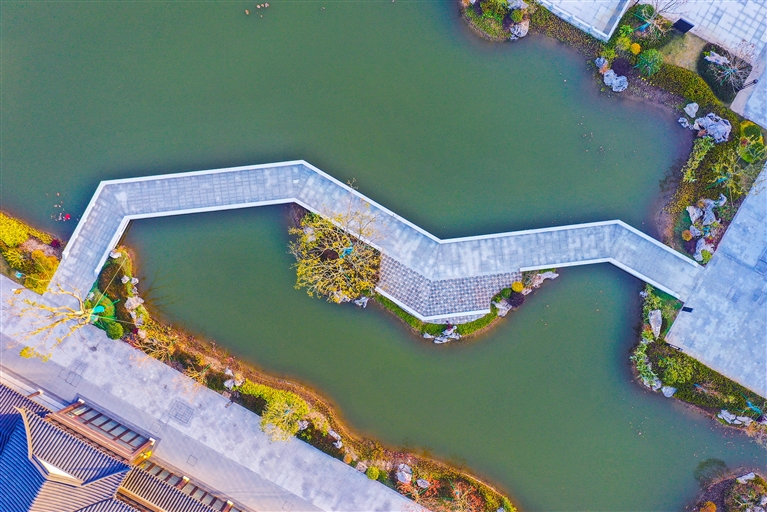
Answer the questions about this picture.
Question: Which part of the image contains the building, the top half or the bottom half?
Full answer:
The building sits in the bottom half of the picture.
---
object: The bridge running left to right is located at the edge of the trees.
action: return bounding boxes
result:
[48,160,705,324]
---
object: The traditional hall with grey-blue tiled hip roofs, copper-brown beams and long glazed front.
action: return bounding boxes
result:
[0,366,264,512]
